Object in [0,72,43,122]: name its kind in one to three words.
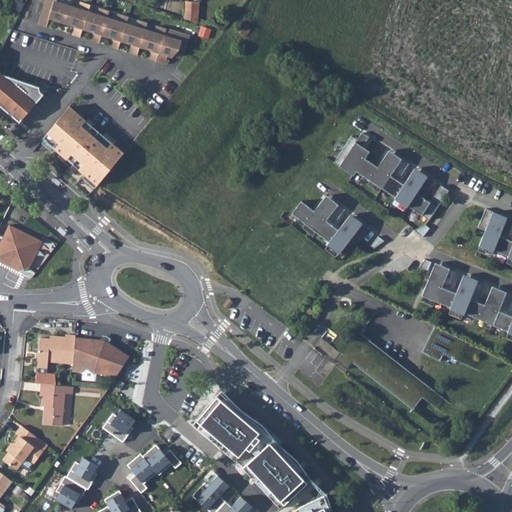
house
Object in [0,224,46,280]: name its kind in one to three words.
house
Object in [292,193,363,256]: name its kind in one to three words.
building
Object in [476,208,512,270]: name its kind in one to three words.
building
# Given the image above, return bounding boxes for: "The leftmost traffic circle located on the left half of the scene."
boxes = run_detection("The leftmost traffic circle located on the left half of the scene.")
[90,239,204,345]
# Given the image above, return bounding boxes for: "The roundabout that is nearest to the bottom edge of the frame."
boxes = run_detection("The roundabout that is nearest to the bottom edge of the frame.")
[381,469,512,512]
